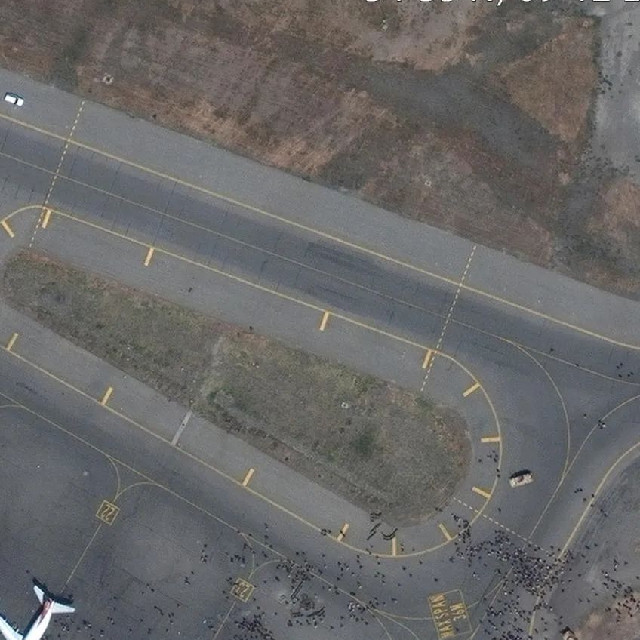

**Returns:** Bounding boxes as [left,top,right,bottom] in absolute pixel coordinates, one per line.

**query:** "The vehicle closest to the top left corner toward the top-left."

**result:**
[5,94,26,107]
